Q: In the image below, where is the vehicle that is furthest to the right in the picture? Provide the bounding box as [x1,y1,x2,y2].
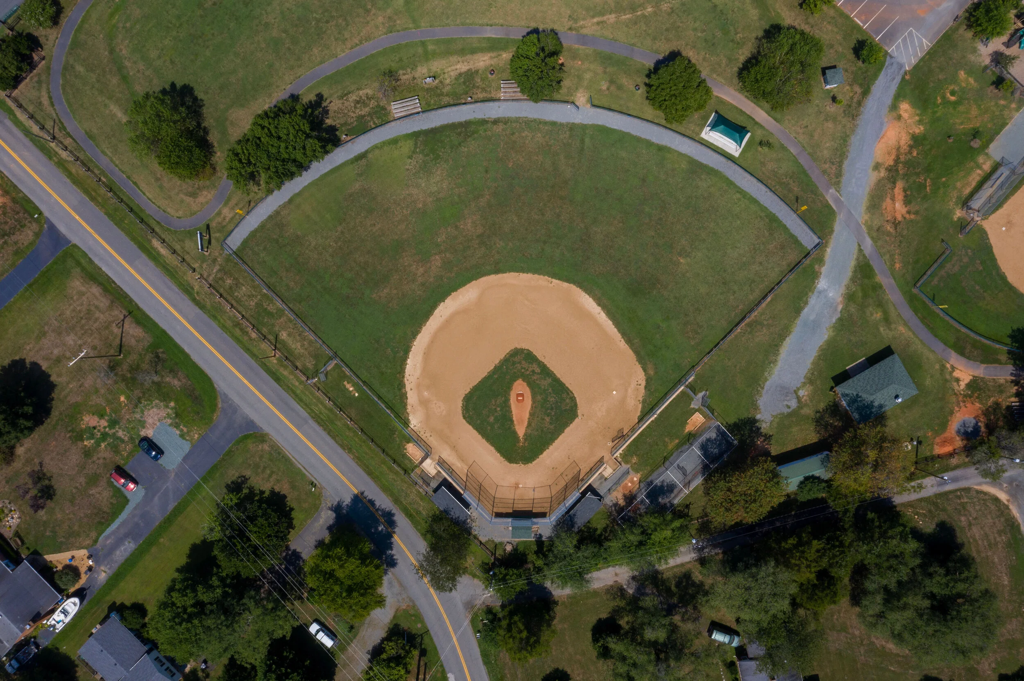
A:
[711,628,741,648]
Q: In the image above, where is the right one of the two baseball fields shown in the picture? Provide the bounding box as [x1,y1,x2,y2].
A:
[919,182,1024,350]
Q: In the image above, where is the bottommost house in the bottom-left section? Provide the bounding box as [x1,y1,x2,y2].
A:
[77,612,188,681]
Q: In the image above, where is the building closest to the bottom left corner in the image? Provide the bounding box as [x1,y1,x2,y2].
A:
[0,555,68,659]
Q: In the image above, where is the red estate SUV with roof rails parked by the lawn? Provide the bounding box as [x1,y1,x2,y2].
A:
[107,466,137,493]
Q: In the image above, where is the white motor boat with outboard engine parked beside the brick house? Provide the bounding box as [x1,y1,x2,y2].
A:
[41,604,73,638]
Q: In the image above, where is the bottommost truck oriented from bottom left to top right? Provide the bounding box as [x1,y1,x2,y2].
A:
[4,645,36,674]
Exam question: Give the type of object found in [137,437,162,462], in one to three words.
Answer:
car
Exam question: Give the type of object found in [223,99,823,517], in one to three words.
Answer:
baseball field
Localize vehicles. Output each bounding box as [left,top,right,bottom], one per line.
[107,466,137,493]
[137,437,162,462]
[4,645,36,674]
[711,628,741,648]
[306,623,339,653]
